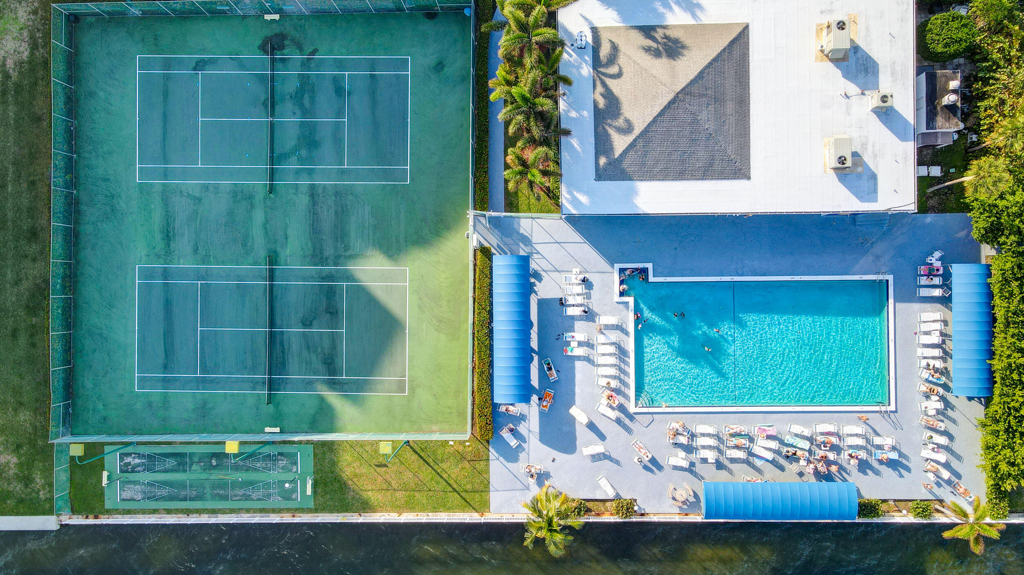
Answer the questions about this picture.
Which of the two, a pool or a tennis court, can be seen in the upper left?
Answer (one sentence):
You can see a tennis court in the upper left.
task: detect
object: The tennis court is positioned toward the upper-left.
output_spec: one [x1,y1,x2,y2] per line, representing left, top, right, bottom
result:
[73,12,473,226]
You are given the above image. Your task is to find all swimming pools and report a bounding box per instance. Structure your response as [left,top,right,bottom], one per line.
[614,263,896,414]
